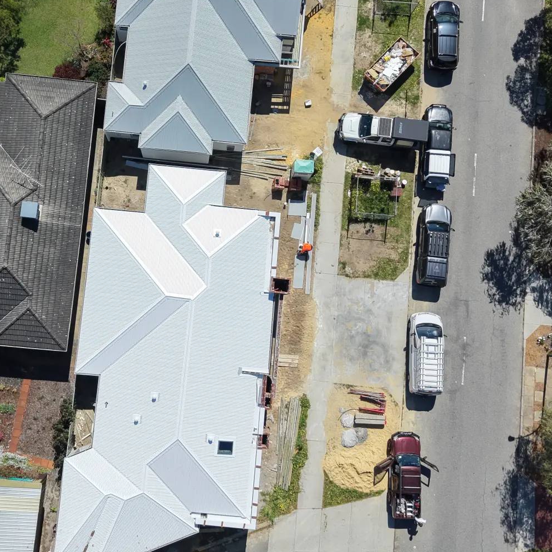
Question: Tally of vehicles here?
six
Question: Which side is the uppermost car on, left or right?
right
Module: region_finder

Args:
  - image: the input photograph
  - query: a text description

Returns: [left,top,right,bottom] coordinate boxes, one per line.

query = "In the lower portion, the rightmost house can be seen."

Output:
[52,163,289,552]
